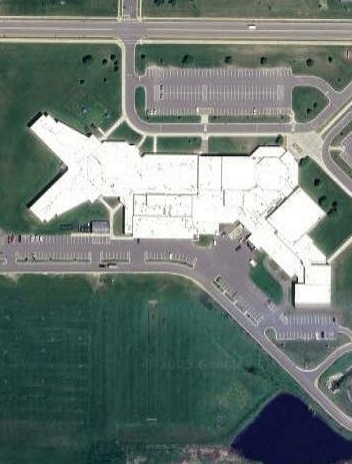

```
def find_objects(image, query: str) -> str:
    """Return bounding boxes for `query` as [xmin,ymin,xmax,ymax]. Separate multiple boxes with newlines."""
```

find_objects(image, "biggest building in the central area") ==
[28,115,331,305]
